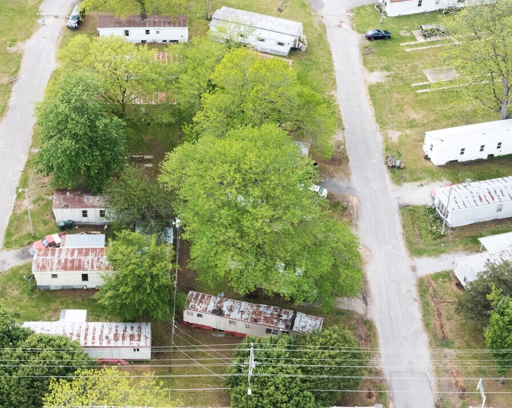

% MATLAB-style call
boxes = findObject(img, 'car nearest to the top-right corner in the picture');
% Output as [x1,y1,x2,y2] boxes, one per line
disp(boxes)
[419,23,448,35]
